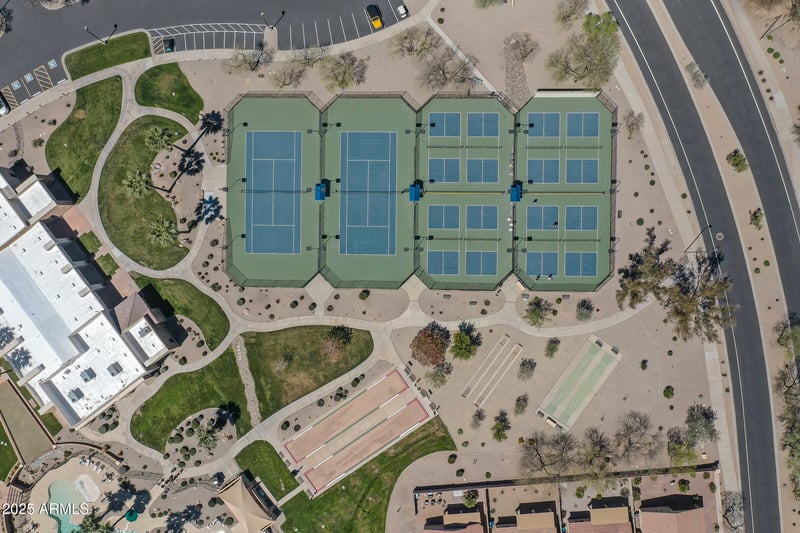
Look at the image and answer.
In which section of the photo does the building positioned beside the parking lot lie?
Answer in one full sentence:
The building positioned beside the parking lot sits in the left section of the image.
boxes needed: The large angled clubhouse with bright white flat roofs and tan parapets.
[0,153,177,426]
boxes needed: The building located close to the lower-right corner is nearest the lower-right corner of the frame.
[638,503,703,533]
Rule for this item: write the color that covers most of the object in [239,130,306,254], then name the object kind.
blue tennis court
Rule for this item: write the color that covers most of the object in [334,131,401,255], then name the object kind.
blue tennis court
